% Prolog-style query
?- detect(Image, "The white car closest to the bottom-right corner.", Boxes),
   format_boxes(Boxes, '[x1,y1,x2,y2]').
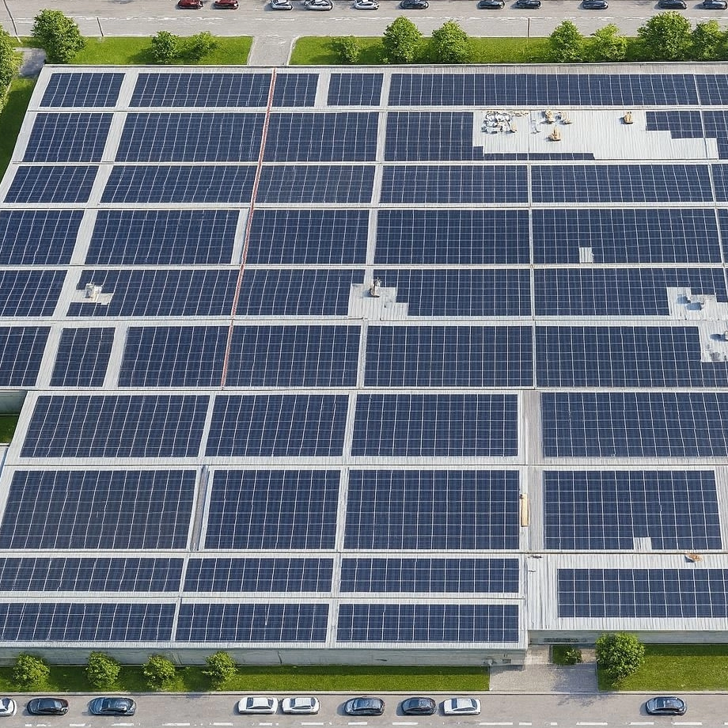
[442,697,481,716]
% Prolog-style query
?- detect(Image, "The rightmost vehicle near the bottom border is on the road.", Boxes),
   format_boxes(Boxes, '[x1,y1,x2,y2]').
[645,697,686,716]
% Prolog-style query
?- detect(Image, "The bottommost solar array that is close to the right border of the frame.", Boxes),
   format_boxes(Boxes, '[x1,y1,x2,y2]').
[558,568,728,616]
